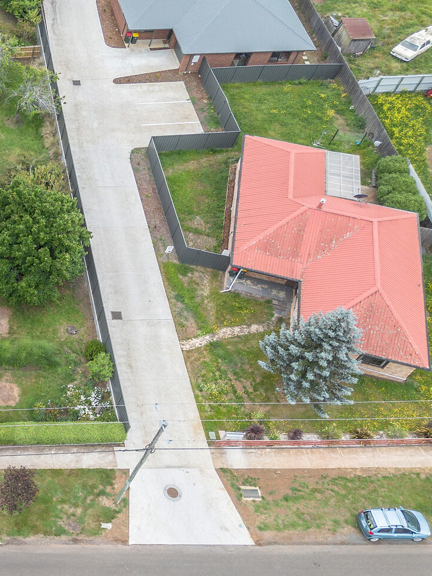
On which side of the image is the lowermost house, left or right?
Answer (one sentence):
It is on the right.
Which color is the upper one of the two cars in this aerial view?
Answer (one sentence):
The upper one of the two cars is white.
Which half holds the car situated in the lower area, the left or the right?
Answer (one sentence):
The car situated in the lower area is on the right side of the image.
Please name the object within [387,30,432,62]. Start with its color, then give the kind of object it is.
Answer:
white car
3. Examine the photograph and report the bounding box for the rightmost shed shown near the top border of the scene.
[336,17,375,58]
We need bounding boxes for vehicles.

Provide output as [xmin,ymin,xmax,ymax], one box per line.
[352,502,432,543]
[387,30,432,62]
